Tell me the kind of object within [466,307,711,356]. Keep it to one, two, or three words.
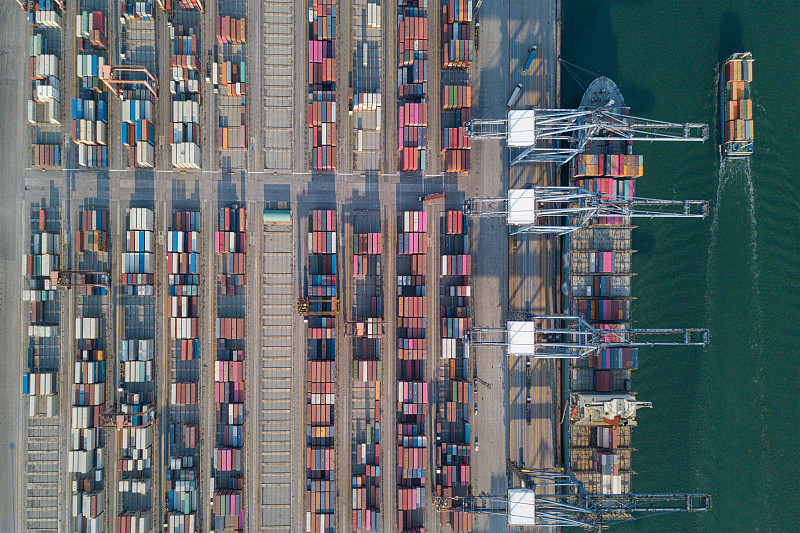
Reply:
container crane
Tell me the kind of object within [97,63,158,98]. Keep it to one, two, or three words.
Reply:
crane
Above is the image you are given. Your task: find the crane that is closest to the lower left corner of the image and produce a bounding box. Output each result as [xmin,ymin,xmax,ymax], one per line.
[99,402,157,431]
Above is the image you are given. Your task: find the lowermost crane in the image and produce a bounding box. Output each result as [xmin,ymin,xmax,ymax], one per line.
[436,452,711,531]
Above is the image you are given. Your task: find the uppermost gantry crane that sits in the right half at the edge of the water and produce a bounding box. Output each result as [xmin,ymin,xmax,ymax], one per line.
[466,107,711,175]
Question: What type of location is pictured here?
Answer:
port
